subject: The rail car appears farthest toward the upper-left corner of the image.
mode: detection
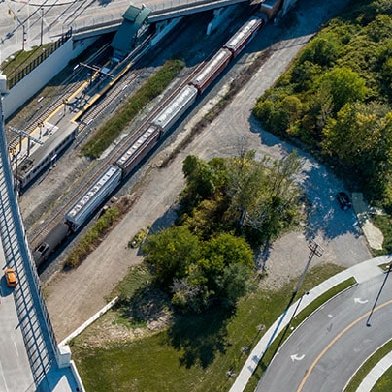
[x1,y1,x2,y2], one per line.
[15,120,78,187]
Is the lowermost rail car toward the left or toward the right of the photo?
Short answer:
left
